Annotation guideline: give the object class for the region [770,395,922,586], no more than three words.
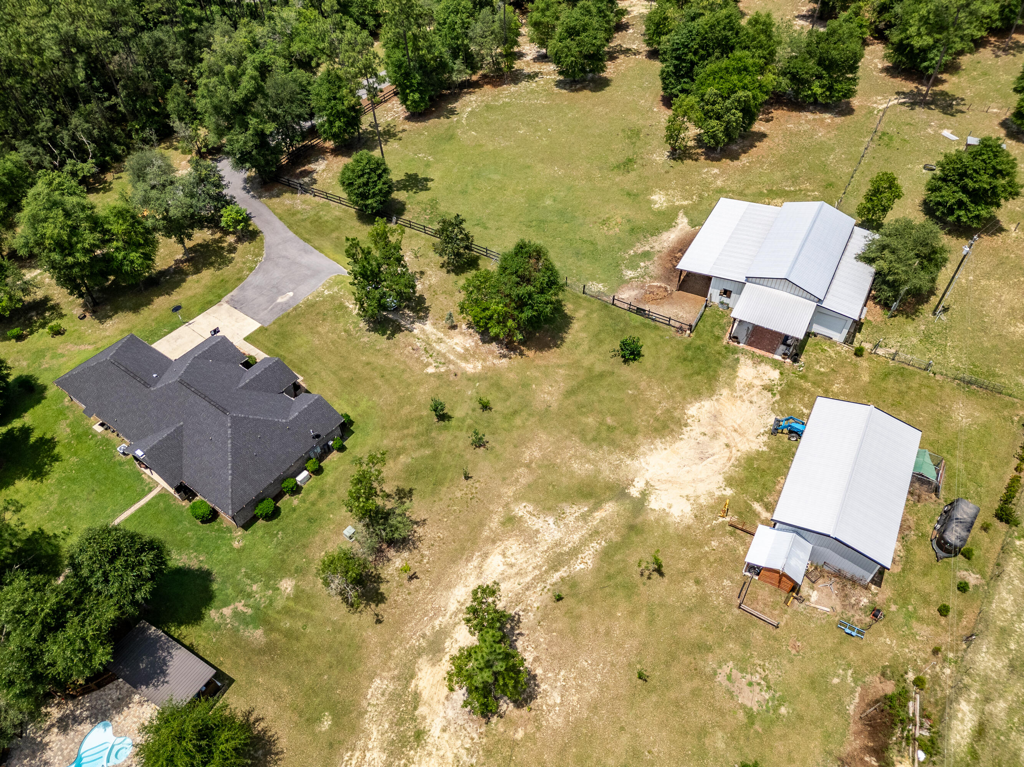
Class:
barn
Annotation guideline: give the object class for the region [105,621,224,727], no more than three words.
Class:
building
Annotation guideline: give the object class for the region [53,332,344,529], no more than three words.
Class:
house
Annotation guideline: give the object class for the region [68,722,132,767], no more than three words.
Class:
swimming pool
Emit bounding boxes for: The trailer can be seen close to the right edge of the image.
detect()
[932,491,989,564]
